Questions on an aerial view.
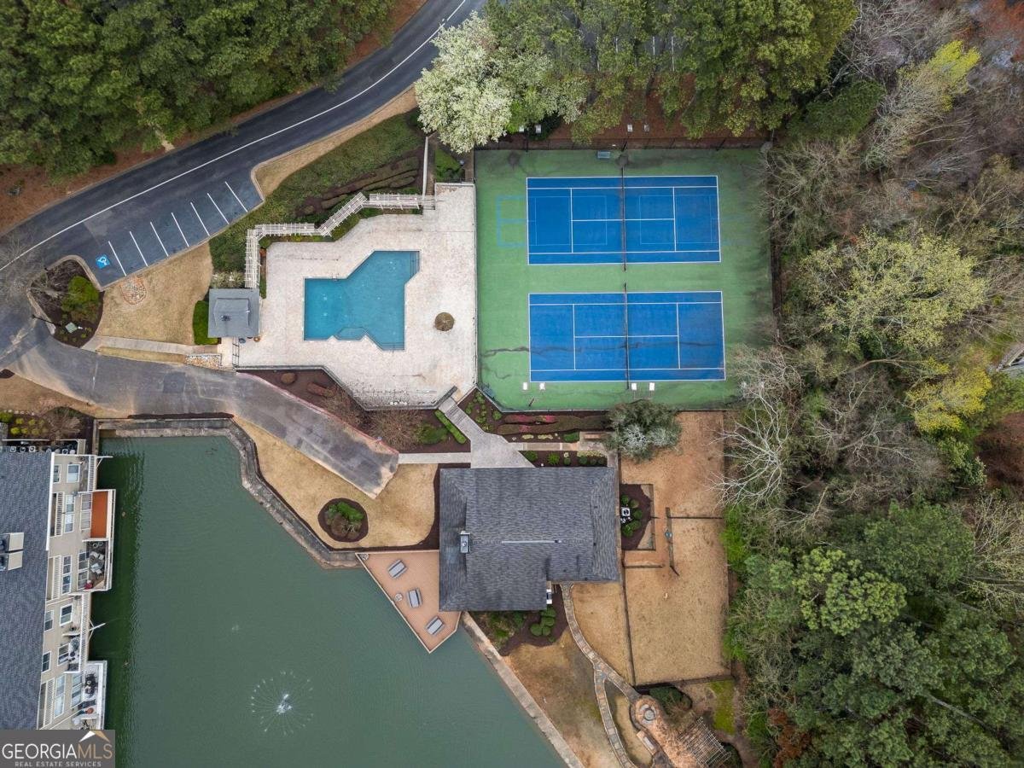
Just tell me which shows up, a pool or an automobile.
pool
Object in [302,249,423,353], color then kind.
blue swimming pool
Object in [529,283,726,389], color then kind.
blue tennis court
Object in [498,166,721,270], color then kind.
blue tennis court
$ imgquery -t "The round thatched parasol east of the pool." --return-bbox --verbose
[434,311,456,333]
